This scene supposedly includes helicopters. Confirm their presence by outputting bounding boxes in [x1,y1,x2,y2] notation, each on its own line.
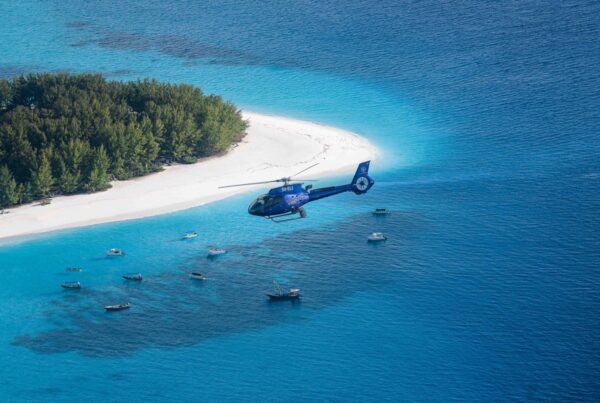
[219,160,374,223]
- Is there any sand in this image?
Yes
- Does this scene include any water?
Yes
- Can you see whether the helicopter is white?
No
